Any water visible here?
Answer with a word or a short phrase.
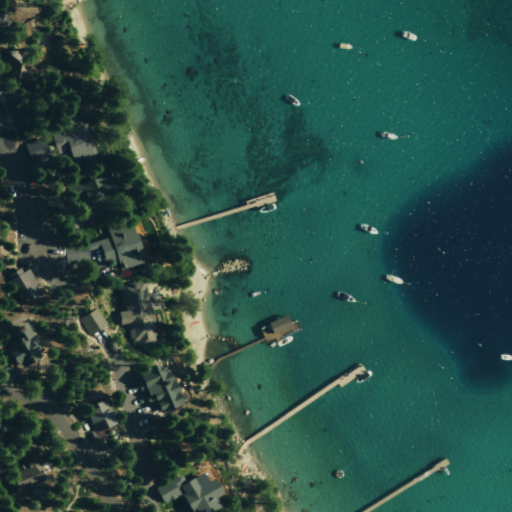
Yes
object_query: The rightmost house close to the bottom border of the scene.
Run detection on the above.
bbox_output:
[179,462,232,512]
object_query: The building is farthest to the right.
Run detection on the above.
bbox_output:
[262,315,302,344]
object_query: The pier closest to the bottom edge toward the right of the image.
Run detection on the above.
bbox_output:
[359,458,450,512]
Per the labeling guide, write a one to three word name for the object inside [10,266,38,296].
house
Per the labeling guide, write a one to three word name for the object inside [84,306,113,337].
building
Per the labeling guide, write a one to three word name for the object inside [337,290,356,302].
boat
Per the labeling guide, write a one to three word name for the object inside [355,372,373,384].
boat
